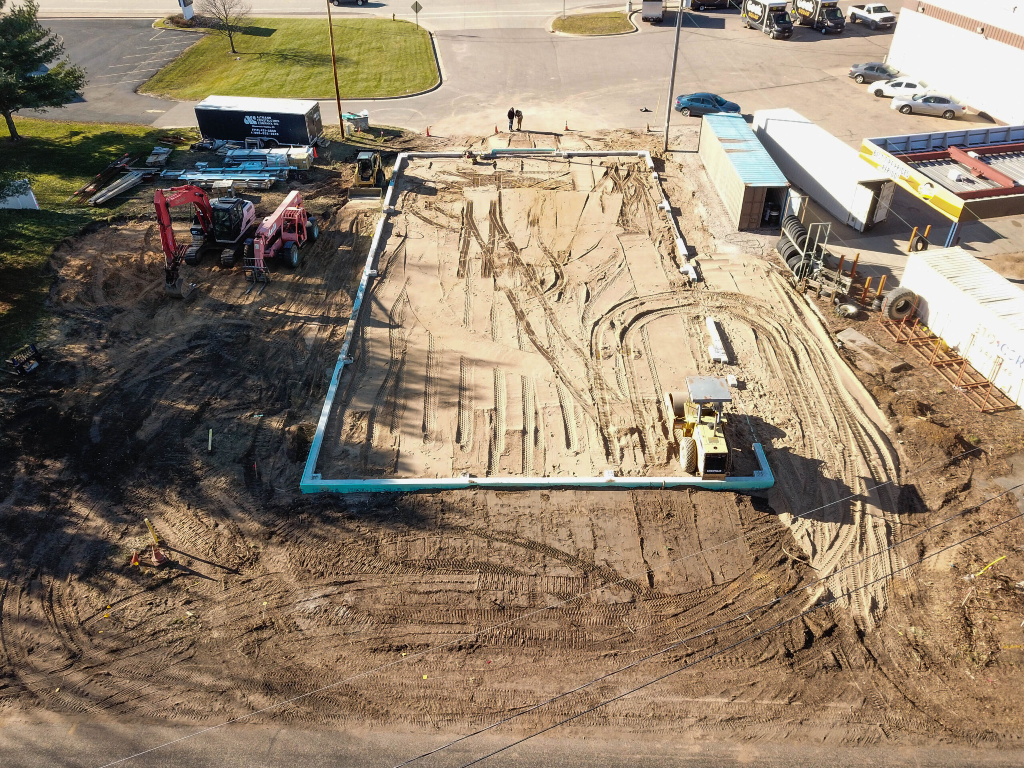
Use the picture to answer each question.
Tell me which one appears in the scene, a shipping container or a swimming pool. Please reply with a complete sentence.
There is a shipping container in the scene.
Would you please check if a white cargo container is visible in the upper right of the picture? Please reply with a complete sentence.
Yes, a white cargo container is visible in the upper right of the picture.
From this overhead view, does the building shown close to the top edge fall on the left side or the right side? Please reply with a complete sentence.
The building shown close to the top edge sits on the right side.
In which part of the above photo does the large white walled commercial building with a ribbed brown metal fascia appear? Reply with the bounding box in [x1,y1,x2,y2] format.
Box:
[887,0,1024,124]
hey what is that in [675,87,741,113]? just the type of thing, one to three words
car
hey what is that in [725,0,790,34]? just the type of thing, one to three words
van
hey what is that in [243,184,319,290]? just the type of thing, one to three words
work vehicle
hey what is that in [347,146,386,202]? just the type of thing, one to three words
work vehicle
